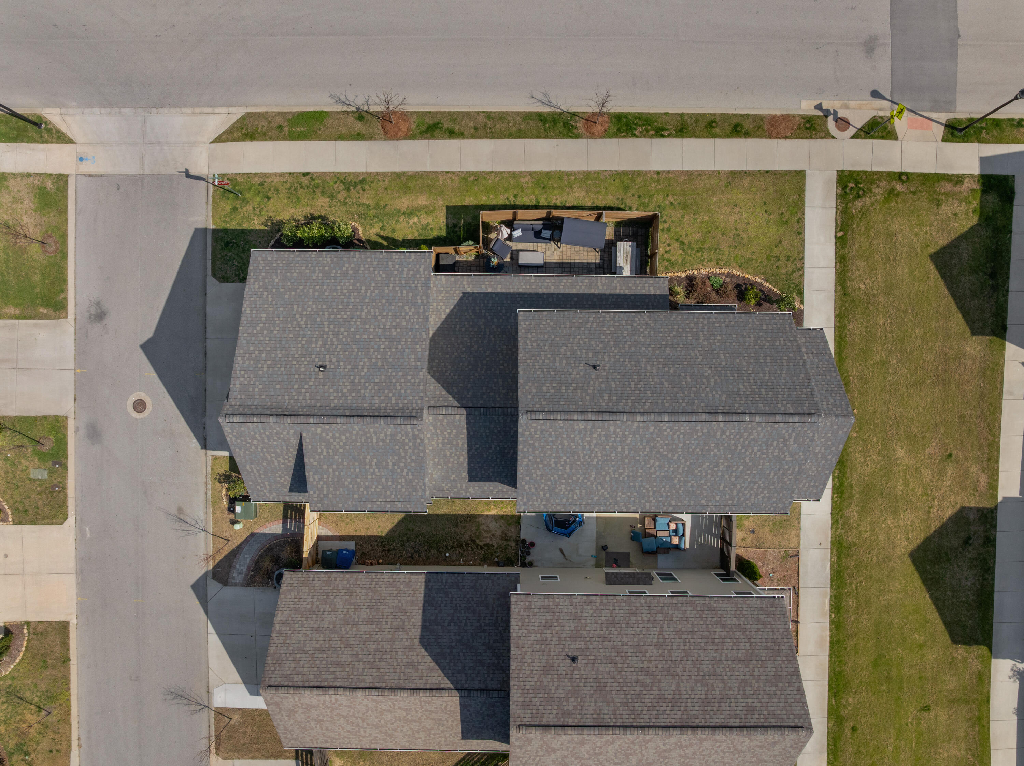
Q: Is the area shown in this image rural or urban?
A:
urban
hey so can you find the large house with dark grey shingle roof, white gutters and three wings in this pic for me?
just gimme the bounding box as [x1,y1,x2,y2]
[220,251,853,513]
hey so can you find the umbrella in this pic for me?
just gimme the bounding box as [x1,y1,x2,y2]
[494,220,511,238]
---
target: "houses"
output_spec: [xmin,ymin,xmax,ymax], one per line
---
[220,251,853,513]
[261,559,814,766]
